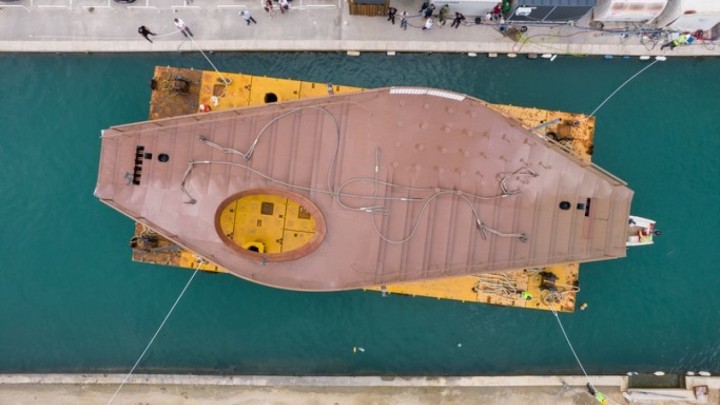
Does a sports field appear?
No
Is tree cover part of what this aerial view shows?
No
